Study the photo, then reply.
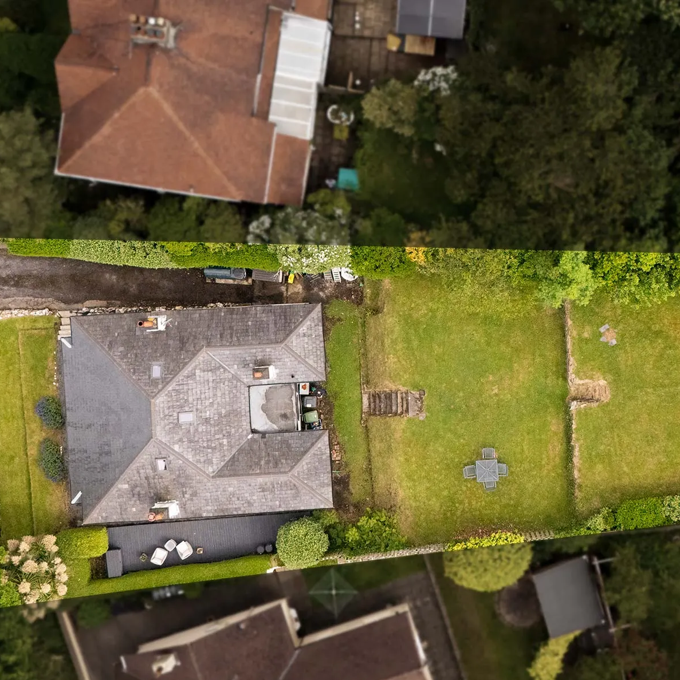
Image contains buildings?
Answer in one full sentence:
Yes, I can see a building in this picture.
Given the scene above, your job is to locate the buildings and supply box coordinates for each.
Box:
[54,0,335,209]
[61,301,335,526]
[119,596,437,680]
[396,0,466,55]
[529,543,609,640]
